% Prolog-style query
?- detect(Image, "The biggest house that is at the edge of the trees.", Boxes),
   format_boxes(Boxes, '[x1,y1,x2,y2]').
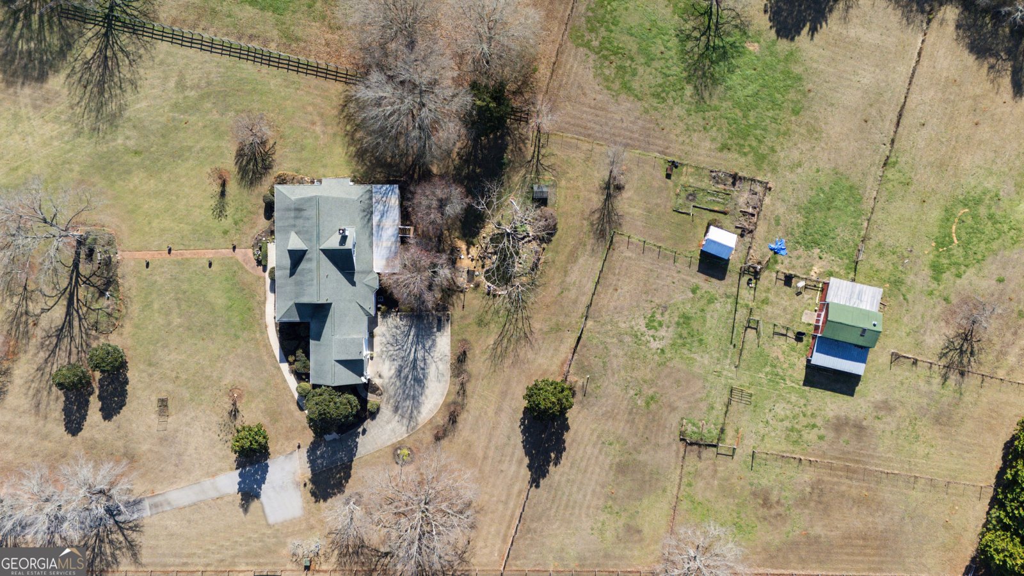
[275,179,400,387]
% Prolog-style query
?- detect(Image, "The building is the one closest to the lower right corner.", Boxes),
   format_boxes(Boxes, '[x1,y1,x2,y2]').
[805,277,883,374]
